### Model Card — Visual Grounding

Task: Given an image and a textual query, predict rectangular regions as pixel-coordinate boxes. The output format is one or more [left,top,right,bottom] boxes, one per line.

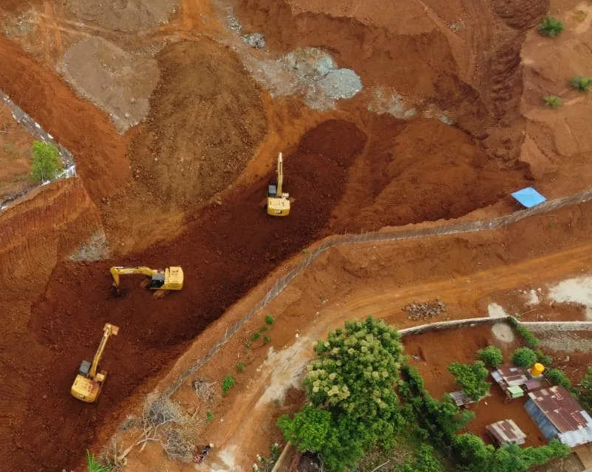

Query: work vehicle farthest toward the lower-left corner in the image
[73,331,115,406]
